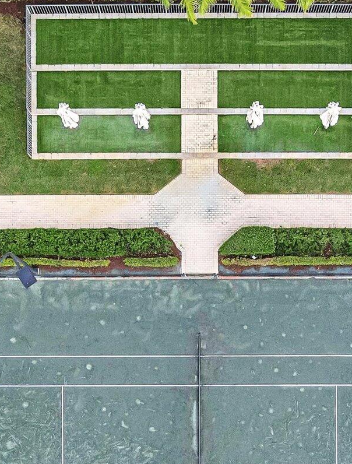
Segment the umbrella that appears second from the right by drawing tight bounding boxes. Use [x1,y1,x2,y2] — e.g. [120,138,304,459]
[246,100,267,132]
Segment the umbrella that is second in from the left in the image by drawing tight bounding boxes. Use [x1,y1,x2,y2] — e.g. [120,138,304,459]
[133,100,152,129]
